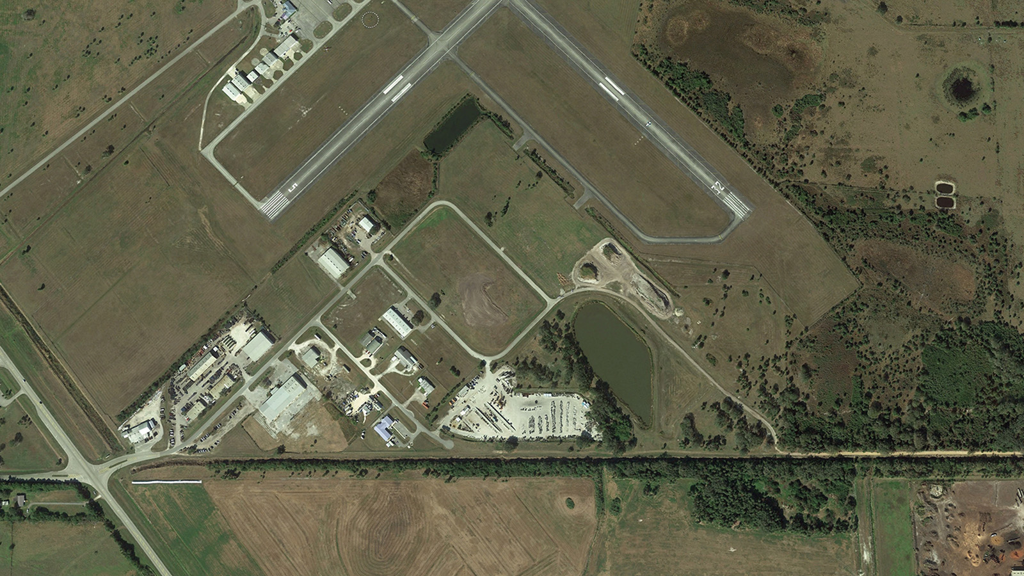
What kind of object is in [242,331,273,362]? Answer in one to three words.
building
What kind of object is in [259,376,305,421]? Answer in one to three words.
building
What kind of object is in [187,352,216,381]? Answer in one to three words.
shed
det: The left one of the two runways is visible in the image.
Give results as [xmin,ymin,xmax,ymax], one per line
[257,0,504,224]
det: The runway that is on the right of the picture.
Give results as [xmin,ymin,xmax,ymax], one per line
[499,0,756,225]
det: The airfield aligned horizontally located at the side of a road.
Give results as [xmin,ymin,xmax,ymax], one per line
[201,0,756,245]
